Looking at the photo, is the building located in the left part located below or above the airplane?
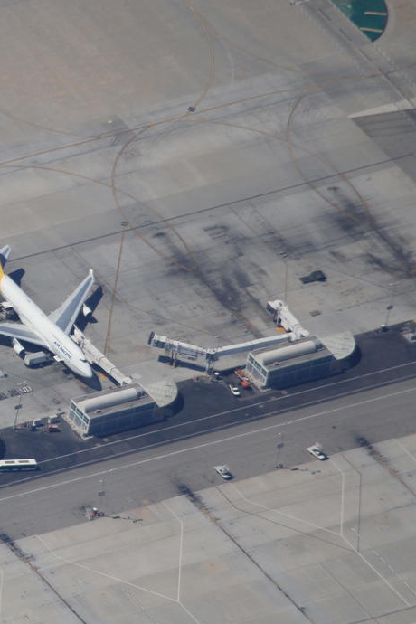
below it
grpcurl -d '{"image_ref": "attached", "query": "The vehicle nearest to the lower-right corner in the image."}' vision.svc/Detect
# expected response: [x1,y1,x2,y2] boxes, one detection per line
[308,441,324,458]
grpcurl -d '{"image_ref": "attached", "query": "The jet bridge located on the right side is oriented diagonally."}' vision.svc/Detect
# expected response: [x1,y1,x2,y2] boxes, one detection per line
[261,299,311,342]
